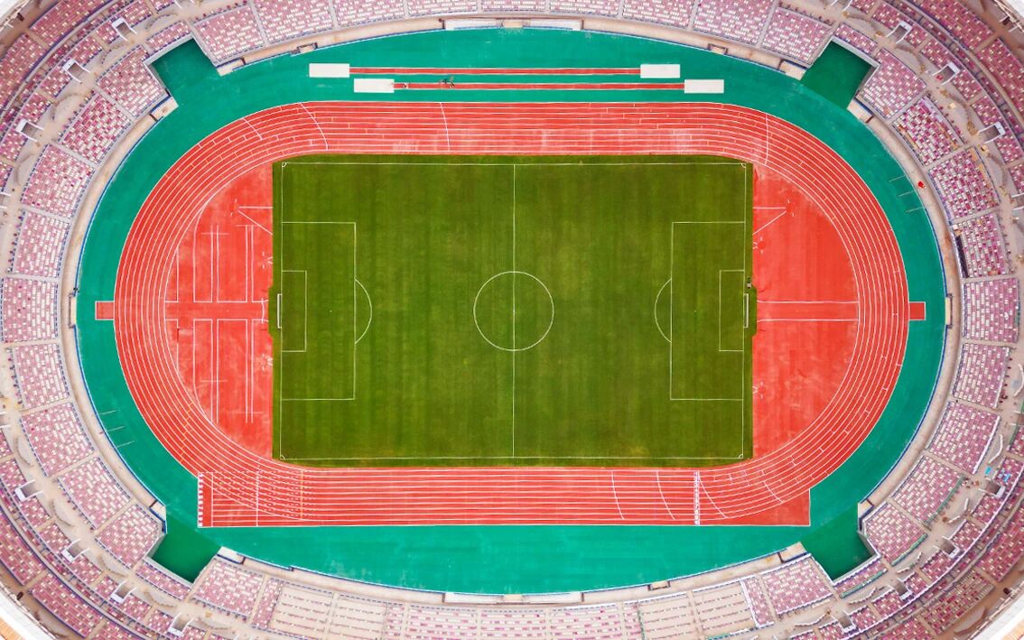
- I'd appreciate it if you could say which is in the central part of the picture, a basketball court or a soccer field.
soccer field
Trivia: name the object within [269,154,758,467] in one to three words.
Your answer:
soccer field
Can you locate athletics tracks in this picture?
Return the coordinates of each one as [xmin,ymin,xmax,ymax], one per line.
[115,101,909,527]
